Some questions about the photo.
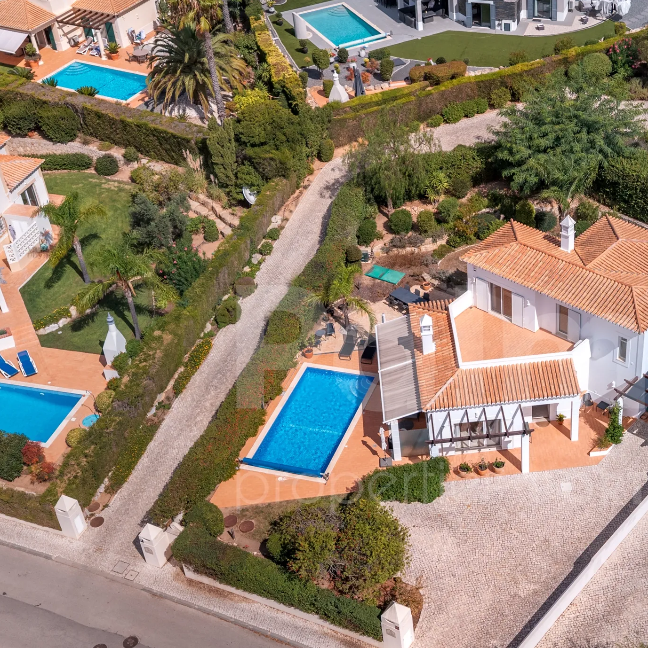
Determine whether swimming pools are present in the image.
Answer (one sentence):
Yes, a swimming pool can be made out from above.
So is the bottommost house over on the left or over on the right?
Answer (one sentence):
It is on the right.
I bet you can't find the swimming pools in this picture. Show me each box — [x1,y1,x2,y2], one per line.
[36,59,159,102]
[306,1,392,52]
[241,362,379,483]
[0,379,91,447]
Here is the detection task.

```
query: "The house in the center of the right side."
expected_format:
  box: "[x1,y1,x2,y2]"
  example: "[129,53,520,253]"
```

[375,206,648,474]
